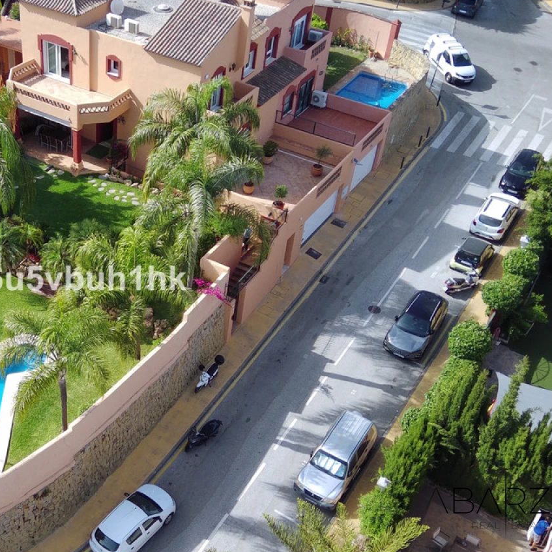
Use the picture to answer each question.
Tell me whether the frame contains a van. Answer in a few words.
Yes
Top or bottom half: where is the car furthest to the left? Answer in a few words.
bottom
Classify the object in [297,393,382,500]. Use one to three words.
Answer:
car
